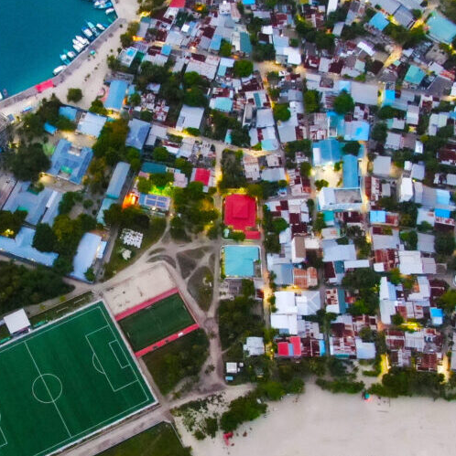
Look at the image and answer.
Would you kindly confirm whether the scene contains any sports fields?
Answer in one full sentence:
Yes, a sports field appears in the view.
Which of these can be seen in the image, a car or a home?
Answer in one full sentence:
Visible in the photo is a home.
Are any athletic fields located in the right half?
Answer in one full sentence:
No, I see no athletic field in the right half.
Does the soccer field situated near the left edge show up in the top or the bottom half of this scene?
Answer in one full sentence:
The soccer field situated near the left edge is in the bottom half of the image.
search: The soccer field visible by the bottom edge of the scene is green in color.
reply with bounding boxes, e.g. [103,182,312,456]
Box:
[0,301,158,456]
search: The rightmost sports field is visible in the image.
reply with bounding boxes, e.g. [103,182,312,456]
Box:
[116,288,199,358]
